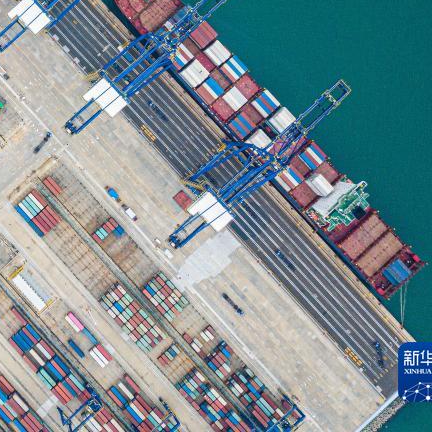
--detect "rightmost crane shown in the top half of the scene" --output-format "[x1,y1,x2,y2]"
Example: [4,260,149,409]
[165,78,354,252]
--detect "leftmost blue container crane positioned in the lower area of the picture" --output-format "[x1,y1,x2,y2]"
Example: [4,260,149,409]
[56,380,103,432]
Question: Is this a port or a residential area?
port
